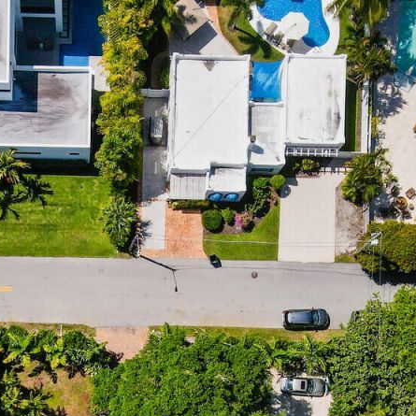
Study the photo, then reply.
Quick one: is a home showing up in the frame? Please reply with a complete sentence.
Yes, there's a home down there.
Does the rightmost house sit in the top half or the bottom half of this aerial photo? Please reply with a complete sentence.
It is in the top half that the rightmost house appears.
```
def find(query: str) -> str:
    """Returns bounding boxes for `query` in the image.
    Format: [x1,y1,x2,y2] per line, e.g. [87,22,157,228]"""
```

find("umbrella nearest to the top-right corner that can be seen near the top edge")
[280,14,308,42]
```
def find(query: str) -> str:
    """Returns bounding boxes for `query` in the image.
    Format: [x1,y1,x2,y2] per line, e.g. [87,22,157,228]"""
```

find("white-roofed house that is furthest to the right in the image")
[166,54,346,206]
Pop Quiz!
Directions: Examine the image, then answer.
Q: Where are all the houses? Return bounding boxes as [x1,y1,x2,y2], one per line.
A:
[0,0,91,165]
[166,54,346,206]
